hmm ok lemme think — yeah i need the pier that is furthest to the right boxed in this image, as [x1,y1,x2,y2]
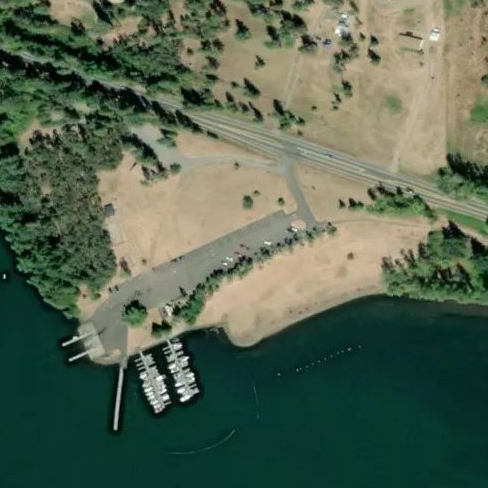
[162,339,196,396]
